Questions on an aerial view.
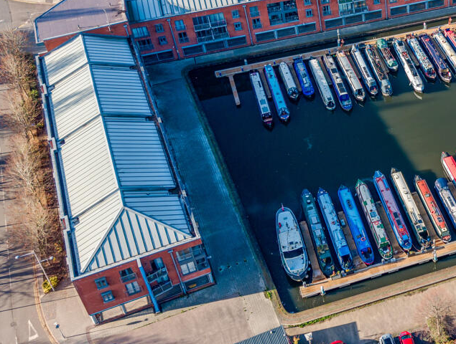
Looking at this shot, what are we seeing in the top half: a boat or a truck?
boat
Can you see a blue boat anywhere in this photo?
Yes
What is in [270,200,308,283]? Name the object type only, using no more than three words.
boat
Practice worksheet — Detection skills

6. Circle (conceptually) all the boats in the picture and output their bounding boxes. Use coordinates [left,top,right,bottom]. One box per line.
[249,68,272,125]
[415,174,451,244]
[374,169,413,253]
[378,36,397,72]
[263,65,288,120]
[309,58,334,111]
[357,178,393,261]
[365,44,390,97]
[293,57,313,98]
[434,32,456,75]
[350,44,376,95]
[391,167,431,250]
[270,200,308,283]
[337,50,364,101]
[438,177,456,233]
[279,61,298,101]
[421,33,450,83]
[340,184,374,266]
[323,52,350,111]
[302,188,333,277]
[392,39,422,93]
[318,186,354,272]
[407,36,434,81]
